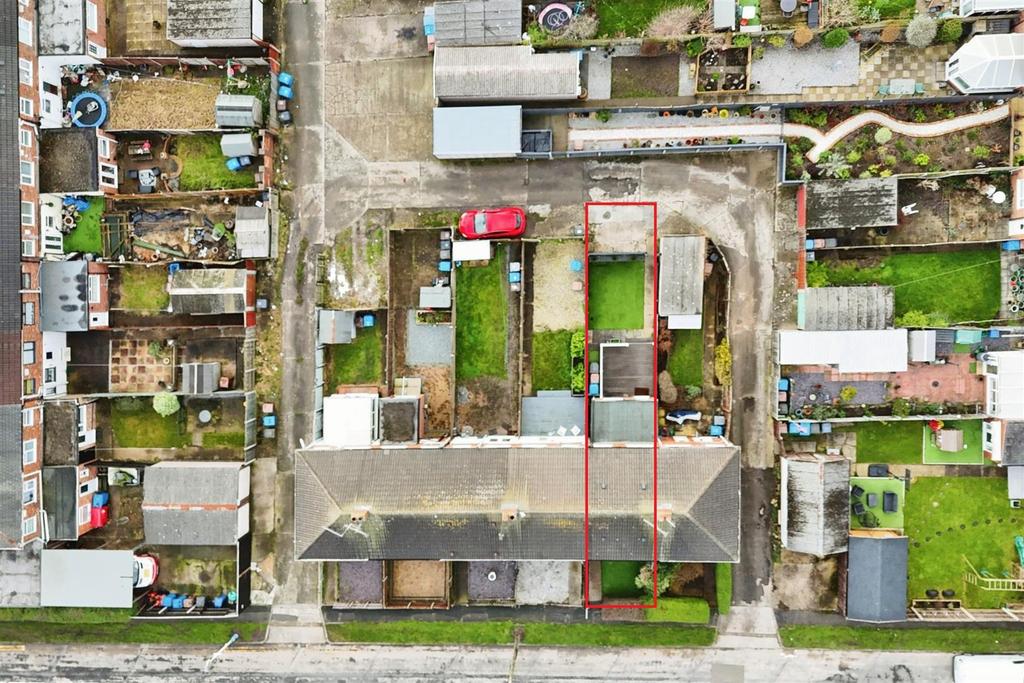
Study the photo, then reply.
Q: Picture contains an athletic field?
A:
No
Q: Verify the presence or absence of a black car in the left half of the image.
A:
No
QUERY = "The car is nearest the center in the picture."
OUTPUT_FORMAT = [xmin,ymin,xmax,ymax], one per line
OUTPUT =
[460,206,527,240]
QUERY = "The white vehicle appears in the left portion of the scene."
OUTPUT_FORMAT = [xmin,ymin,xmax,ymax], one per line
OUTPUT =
[134,554,162,583]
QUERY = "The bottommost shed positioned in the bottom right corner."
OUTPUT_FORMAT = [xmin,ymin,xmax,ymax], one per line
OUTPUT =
[838,531,908,622]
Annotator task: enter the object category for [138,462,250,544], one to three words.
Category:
building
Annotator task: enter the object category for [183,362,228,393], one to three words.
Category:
shed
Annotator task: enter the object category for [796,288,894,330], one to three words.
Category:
building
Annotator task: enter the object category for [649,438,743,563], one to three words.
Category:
house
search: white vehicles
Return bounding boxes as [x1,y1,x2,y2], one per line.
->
[952,654,1024,683]
[134,554,162,583]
